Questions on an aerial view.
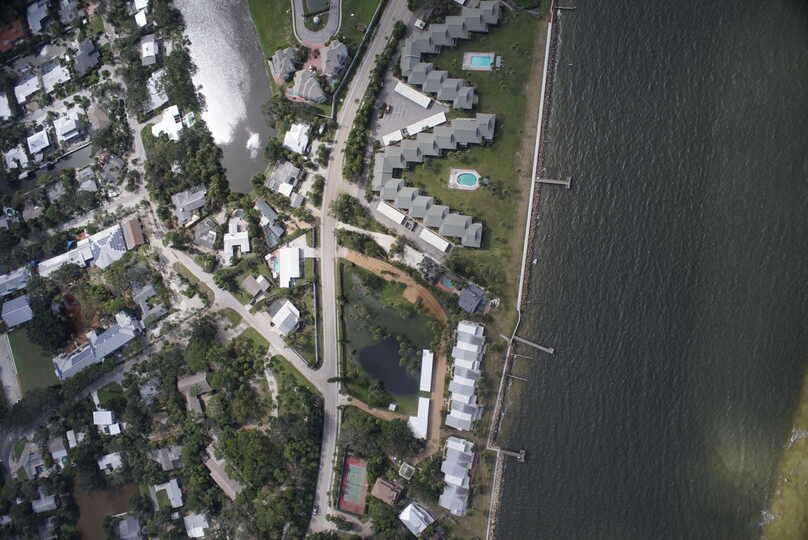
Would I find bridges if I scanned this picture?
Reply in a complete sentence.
No, the frame has no bridge in it.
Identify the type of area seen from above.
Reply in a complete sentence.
This looks like a residential area.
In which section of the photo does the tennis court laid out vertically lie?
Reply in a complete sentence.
The tennis court laid out vertically appears toward the bottom of the photo.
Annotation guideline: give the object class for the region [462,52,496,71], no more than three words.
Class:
swimming pool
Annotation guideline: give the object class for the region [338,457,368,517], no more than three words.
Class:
tennis court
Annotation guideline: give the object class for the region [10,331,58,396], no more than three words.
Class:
sports field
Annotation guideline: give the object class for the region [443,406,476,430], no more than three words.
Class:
house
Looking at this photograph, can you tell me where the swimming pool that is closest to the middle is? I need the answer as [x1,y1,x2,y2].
[436,275,457,294]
